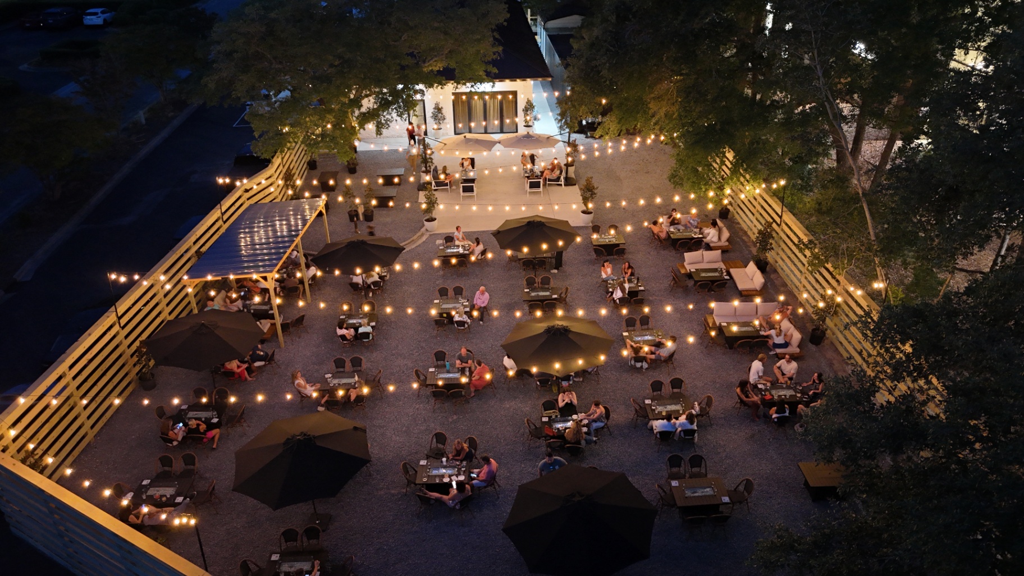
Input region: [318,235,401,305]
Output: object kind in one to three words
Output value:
umbrella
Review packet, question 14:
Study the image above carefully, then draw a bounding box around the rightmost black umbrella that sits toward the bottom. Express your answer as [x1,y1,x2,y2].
[505,460,655,576]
